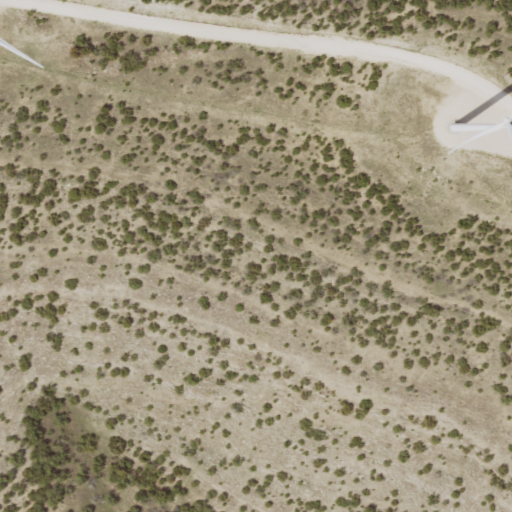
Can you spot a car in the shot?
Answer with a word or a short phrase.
No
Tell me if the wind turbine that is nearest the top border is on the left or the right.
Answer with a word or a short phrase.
left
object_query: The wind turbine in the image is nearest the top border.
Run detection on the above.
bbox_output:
[0,36,43,68]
